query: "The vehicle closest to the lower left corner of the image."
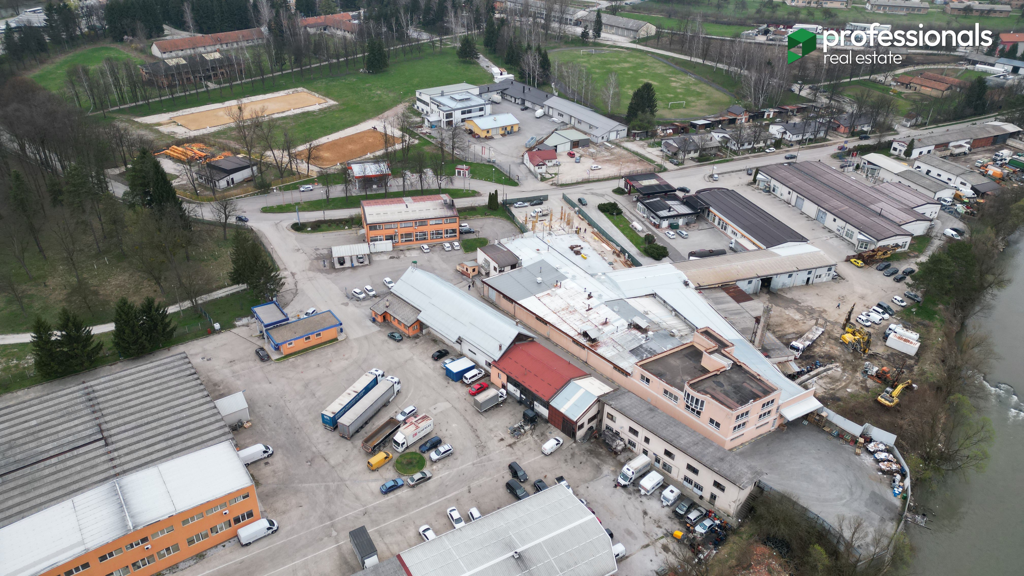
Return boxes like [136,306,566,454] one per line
[233,515,276,542]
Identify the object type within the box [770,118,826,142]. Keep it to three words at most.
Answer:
house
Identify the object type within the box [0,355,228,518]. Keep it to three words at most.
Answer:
warehouse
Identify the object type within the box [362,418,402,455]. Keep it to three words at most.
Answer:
trailer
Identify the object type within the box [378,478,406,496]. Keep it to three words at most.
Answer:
car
